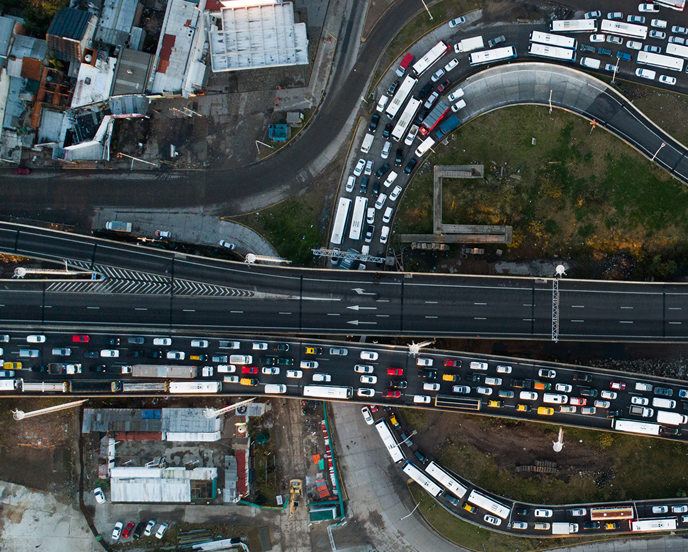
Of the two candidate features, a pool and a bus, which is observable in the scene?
bus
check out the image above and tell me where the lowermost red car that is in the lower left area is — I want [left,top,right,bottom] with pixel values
[123,520,135,539]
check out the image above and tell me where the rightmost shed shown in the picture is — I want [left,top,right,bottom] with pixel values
[308,505,338,522]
